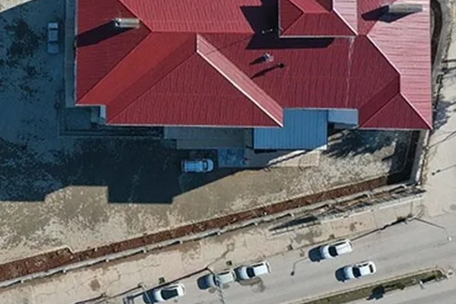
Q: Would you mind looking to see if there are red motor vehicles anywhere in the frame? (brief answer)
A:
No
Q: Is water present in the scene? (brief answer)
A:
No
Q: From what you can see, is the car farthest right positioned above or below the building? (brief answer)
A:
below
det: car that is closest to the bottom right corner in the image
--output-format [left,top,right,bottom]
[342,258,376,279]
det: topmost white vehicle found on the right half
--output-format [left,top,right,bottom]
[320,239,353,258]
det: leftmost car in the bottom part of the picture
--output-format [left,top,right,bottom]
[152,281,185,302]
